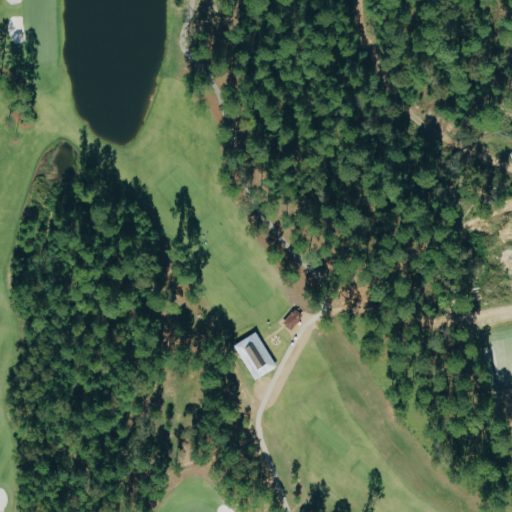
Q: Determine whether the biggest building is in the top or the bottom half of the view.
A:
bottom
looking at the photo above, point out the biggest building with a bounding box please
[234,332,277,380]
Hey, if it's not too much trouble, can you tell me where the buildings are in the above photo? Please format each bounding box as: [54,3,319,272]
[284,310,302,330]
[234,332,277,380]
